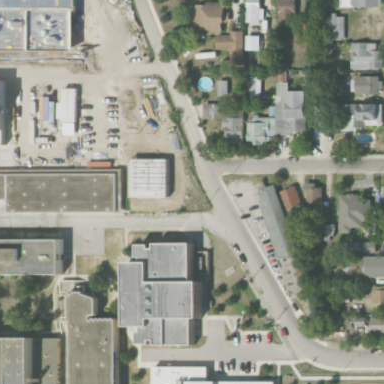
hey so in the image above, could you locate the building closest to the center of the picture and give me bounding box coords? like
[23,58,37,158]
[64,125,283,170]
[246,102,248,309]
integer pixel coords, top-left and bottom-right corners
[128,159,170,197]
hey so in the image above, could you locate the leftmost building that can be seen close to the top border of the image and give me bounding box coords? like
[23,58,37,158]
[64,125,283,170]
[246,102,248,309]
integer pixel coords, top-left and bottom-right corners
[0,0,78,50]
